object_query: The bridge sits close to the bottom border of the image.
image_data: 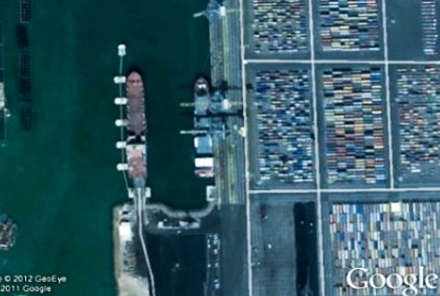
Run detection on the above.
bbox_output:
[135,180,153,296]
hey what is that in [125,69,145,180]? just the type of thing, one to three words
ship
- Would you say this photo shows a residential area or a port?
port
